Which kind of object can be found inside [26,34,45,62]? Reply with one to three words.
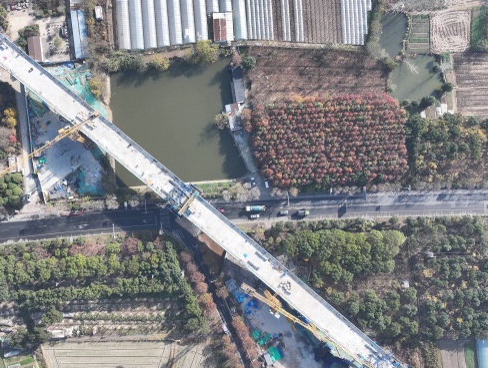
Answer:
building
